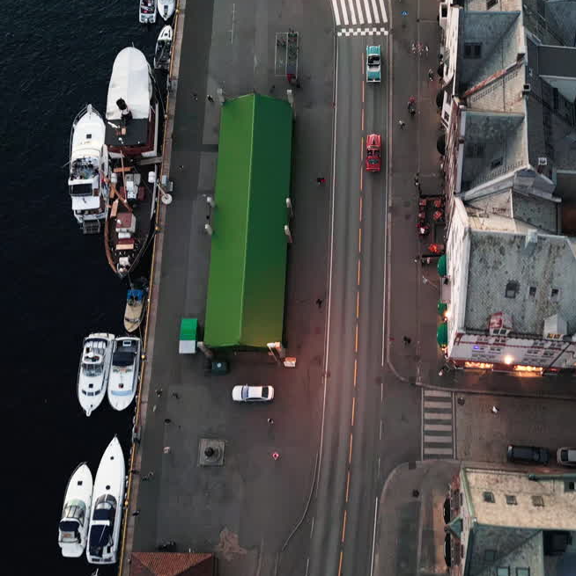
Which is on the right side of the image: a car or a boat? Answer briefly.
car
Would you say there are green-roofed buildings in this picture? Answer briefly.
Yes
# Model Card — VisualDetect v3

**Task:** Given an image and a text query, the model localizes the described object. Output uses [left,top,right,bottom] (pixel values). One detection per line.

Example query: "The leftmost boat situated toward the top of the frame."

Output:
[64,100,109,235]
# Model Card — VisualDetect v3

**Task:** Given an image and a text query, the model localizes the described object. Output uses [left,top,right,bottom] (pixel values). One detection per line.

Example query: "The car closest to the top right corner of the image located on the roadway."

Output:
[365,46,381,86]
